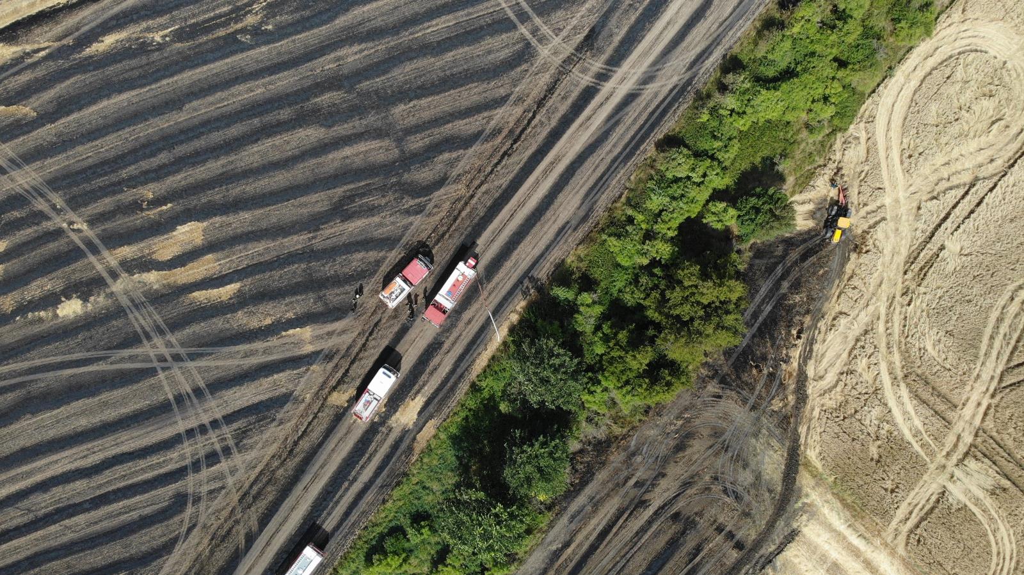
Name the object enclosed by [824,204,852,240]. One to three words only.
work vehicle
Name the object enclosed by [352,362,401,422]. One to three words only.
truck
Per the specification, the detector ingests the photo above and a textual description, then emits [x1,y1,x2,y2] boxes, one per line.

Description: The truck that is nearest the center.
[421,259,477,327]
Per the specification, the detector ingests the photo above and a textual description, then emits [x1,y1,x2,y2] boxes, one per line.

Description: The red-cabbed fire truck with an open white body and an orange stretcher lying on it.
[380,257,432,308]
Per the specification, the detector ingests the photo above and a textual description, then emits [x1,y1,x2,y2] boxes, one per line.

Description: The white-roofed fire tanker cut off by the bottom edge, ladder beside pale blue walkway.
[286,541,326,575]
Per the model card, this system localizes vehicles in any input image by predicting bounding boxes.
[824,204,852,240]
[380,257,432,308]
[352,362,401,422]
[421,259,477,327]
[286,541,326,575]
